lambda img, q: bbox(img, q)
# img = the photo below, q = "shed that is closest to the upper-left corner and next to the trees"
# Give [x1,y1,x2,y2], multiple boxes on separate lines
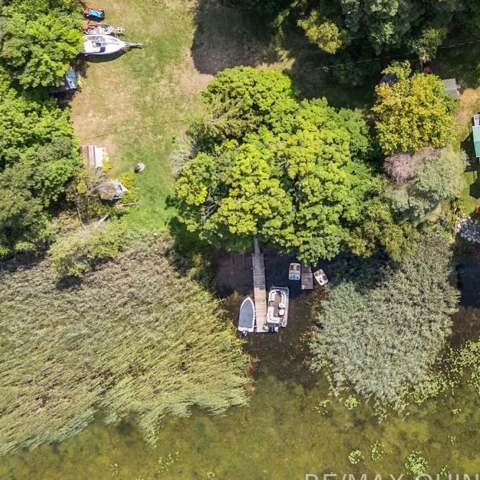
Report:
[79,146,110,168]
